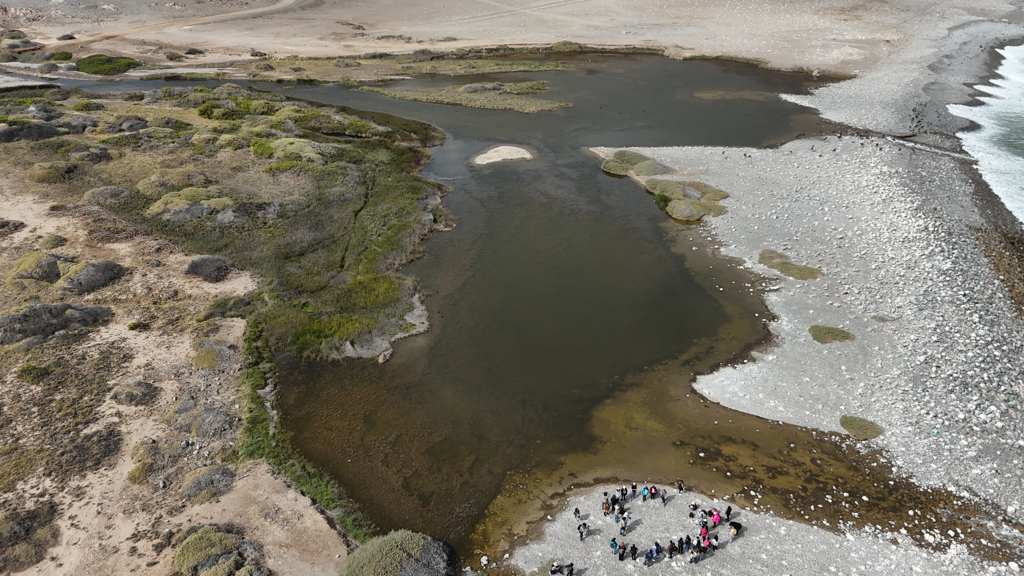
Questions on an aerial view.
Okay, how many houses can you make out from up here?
none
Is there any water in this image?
Yes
